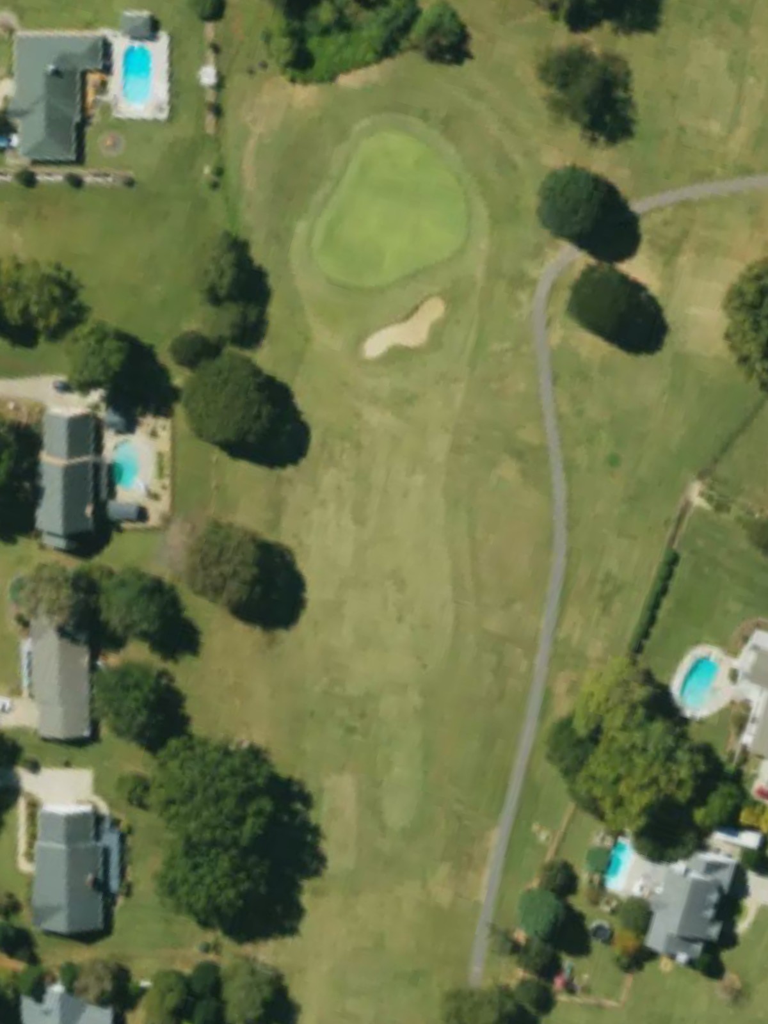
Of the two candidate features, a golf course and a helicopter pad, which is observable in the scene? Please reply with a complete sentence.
The image shows a golf course.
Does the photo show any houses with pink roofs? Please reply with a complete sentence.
No, the picture doesn't show any house with a pink roof.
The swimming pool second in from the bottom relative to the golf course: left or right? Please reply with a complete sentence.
From the viewer's perspective, the swimming pool second in from the bottom falls to the right of the golf course.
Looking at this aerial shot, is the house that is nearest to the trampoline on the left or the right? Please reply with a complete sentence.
The house that is nearest to the trampoline is on the right side of the image.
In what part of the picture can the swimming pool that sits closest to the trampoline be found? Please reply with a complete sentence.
The swimming pool that sits closest to the trampoline sits in the bottom right section of the image.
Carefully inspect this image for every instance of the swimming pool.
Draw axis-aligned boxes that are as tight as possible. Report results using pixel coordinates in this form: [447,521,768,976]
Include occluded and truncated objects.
[599,833,637,899]
[96,32,169,119]
[671,645,745,719]
[104,432,156,502]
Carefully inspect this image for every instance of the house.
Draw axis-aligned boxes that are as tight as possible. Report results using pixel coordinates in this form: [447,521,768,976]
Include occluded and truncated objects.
[32,804,120,936]
[644,848,737,963]
[10,33,103,160]
[22,613,88,739]
[36,409,109,547]
[16,980,114,1024]
[733,628,768,767]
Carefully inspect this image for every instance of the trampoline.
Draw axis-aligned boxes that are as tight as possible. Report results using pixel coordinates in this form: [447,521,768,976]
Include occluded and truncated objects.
[592,921,611,939]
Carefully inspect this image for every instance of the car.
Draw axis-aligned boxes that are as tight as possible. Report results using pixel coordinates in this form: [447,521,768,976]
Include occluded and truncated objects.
[757,787,768,800]
[0,699,11,711]
[0,136,18,148]
[55,380,81,393]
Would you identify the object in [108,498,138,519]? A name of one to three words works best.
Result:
shed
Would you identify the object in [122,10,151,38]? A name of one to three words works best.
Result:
shed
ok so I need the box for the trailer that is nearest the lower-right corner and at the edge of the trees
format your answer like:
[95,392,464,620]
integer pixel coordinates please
[711,825,762,848]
